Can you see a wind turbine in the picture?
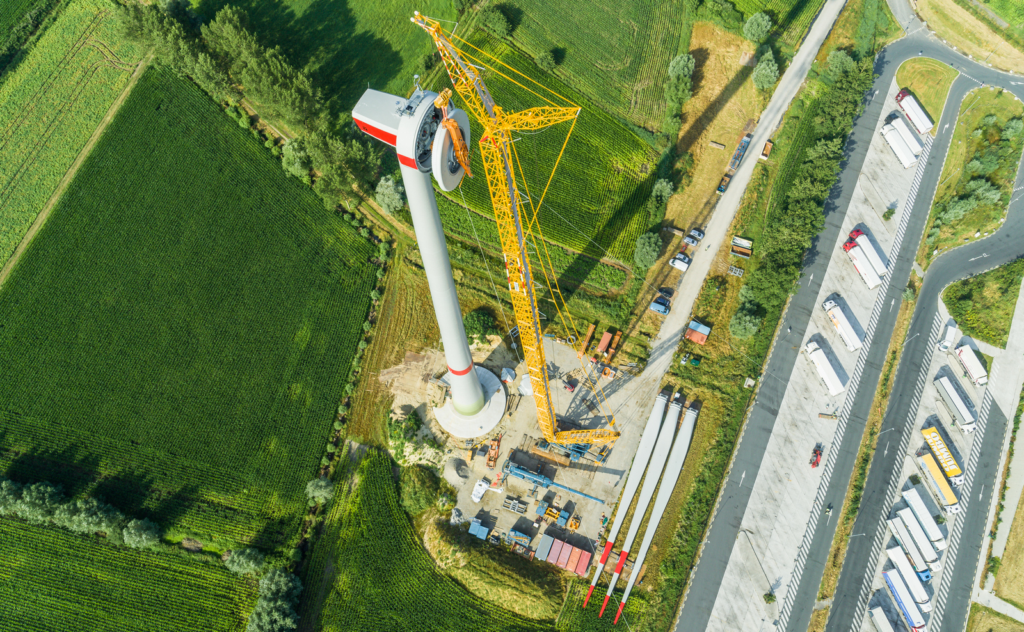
Yes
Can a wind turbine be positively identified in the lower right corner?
No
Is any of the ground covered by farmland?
Yes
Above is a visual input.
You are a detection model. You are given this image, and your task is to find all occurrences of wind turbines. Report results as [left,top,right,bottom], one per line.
[340,62,487,415]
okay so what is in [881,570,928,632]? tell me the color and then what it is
white truck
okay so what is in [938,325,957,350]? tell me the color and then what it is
white vehicle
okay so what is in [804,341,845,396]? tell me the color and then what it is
white truck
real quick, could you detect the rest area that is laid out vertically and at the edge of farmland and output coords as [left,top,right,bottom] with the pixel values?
[675,0,1024,632]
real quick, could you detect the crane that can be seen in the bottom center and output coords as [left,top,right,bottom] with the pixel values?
[505,454,607,503]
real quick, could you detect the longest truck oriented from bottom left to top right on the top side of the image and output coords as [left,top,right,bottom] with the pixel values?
[727,130,755,169]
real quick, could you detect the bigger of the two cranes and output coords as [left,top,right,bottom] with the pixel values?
[409,4,621,472]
